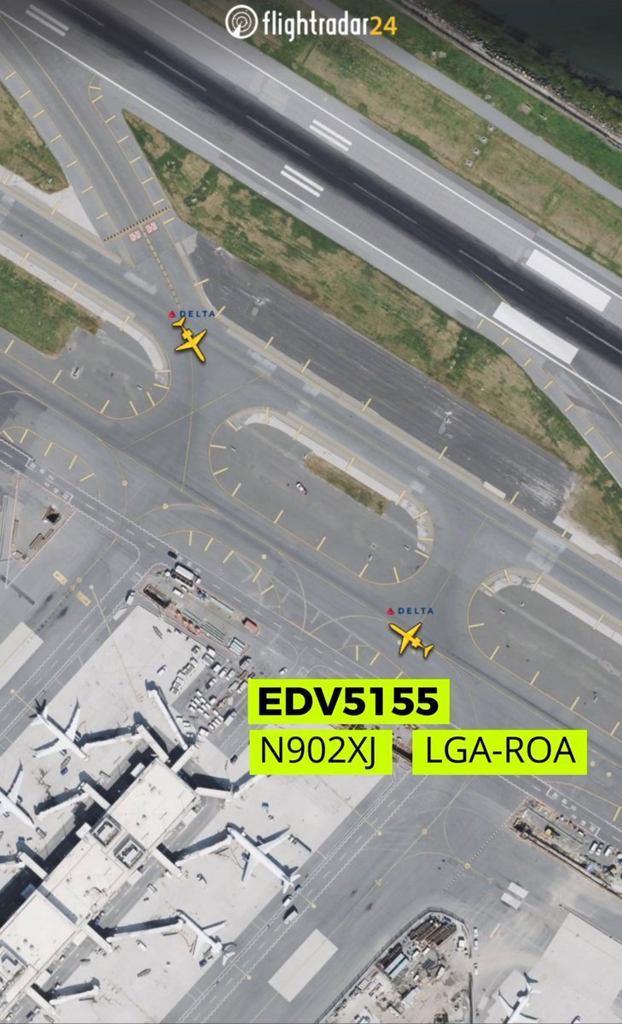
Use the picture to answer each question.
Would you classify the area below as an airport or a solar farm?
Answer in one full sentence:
The area seen from above is an airport.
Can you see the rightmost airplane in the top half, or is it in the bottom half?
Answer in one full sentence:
Seen from above, the rightmost airplane lies in the bottom half of the view.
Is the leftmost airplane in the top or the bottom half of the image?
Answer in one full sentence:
You can find the leftmost airplane in the bottom half.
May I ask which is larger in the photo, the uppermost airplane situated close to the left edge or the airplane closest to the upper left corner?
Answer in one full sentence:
The uppermost airplane situated close to the left edge covers a greater area than the airplane closest to the upper left corner.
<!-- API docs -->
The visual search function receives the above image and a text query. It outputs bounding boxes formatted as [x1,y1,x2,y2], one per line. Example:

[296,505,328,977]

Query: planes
[390,622,434,657]
[0,772,34,826]
[180,915,235,966]
[172,317,207,362]
[31,704,87,759]
[228,828,301,894]
[494,981,538,1024]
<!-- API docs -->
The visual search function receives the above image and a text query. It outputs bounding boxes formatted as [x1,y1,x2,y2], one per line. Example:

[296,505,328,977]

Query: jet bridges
[81,726,170,762]
[195,771,270,803]
[148,686,198,772]
[0,852,46,878]
[83,918,183,953]
[34,783,111,821]
[153,834,236,876]
[27,985,103,1015]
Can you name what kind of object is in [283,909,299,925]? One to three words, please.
vehicle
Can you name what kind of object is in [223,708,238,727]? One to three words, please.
vehicle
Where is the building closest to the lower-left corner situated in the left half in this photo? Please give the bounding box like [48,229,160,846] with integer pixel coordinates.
[0,757,201,1015]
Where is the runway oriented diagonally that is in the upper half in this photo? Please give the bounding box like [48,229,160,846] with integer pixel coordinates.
[0,0,622,403]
